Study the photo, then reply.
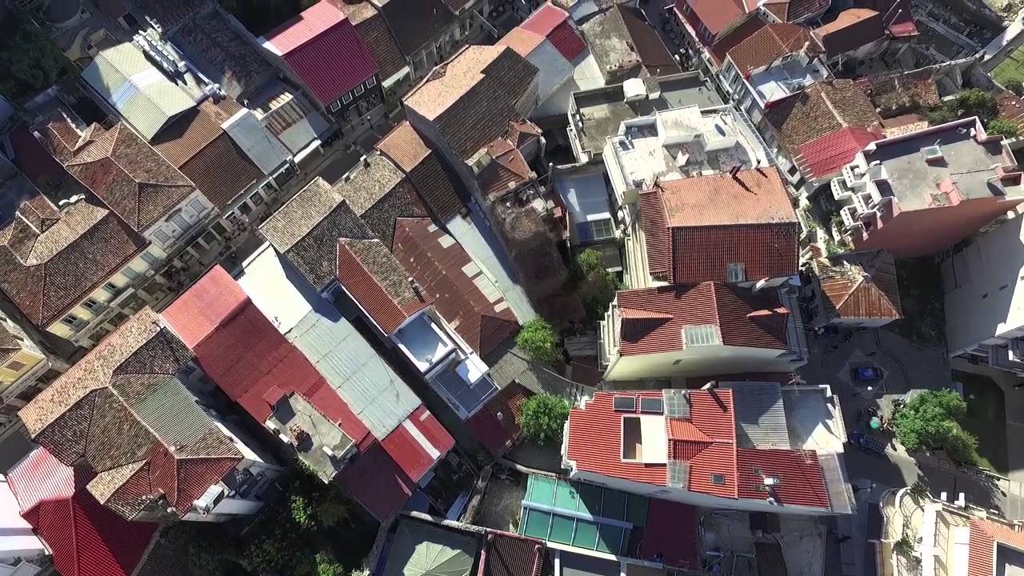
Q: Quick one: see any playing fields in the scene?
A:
No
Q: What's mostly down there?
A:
buildings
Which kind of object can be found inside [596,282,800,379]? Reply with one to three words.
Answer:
house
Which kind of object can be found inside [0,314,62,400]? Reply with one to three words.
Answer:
house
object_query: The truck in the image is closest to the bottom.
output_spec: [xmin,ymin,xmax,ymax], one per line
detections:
[847,430,895,458]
